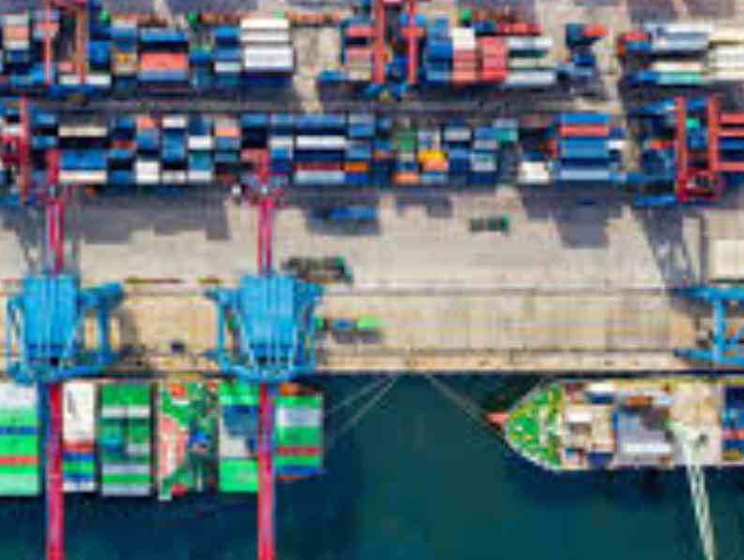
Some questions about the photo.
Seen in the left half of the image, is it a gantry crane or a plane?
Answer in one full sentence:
The feature located in the left half of the image is a gantry crane.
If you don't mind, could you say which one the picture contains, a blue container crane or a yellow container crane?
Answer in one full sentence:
The one in the frame is a blue container crane.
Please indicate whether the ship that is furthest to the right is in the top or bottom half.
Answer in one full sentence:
You can find the ship that is furthest to the right in the bottom half.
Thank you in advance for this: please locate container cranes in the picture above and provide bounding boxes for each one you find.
[8,151,125,560]
[43,0,101,96]
[636,94,720,208]
[679,289,744,369]
[355,0,419,95]
[0,95,47,209]
[202,151,316,560]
